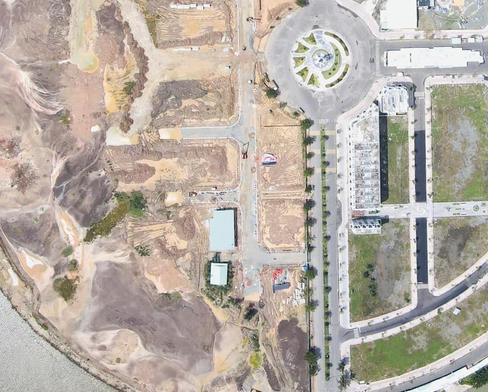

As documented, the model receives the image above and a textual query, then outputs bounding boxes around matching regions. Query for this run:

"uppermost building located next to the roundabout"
[379,0,417,28]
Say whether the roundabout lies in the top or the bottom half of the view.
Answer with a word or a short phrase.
top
